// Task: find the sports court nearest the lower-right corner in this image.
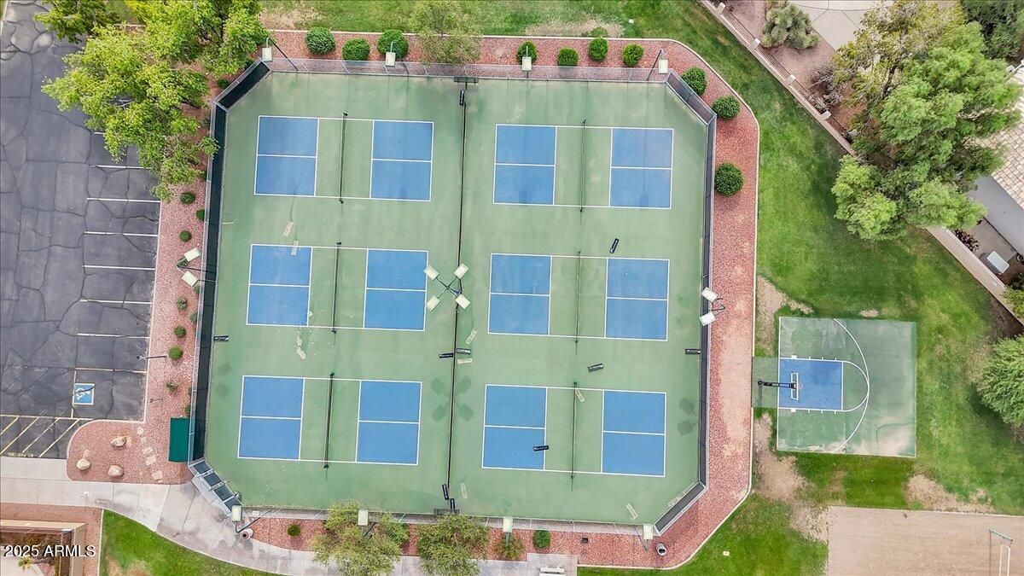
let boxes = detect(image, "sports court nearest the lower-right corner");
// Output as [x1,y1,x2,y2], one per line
[828,506,1024,576]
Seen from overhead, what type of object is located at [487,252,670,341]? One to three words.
sports court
